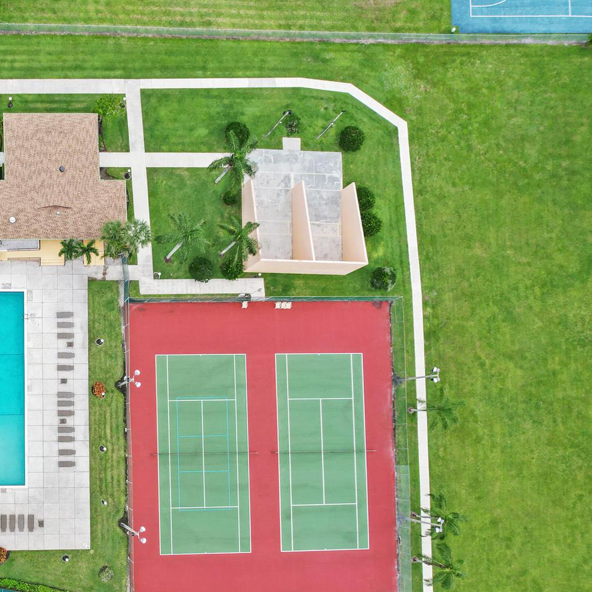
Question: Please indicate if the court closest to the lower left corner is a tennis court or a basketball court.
tennis court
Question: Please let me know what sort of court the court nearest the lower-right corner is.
tennis court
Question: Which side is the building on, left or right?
left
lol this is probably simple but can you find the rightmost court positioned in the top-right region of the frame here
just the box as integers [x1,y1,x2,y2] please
[452,0,592,34]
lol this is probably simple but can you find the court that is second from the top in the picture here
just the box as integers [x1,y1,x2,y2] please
[243,149,367,275]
